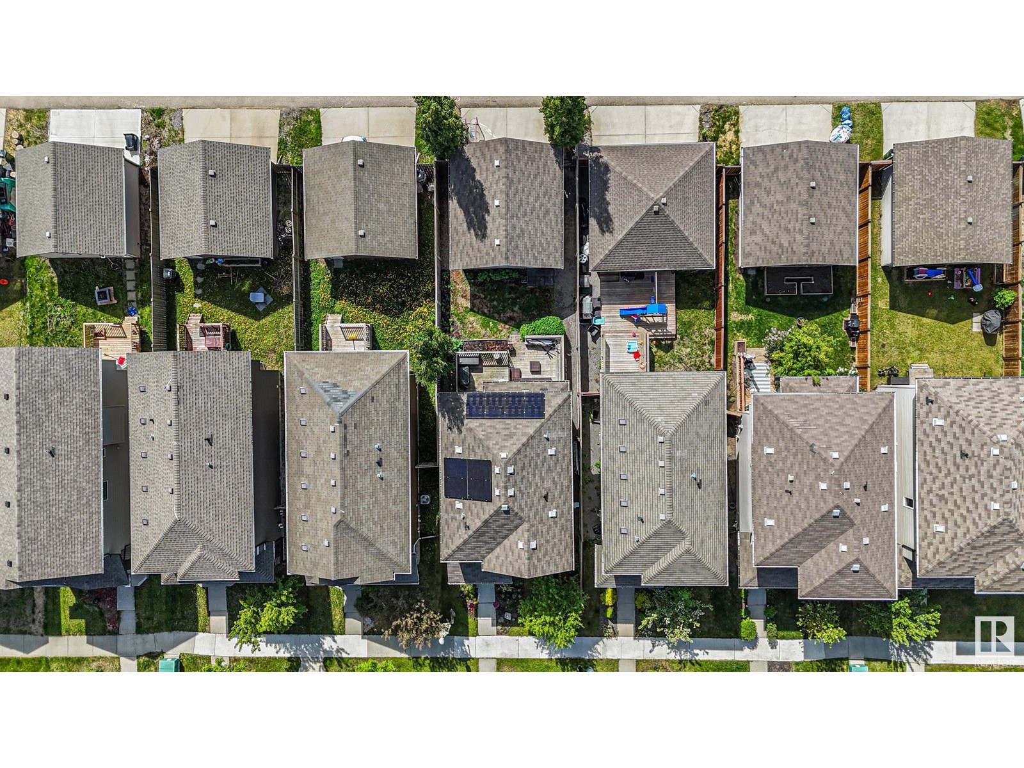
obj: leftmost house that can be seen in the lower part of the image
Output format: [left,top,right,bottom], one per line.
[0,346,146,587]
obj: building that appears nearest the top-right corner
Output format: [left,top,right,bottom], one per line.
[880,135,1013,269]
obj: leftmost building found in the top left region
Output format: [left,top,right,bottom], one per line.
[15,141,140,260]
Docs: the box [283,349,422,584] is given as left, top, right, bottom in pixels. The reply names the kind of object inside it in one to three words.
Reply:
house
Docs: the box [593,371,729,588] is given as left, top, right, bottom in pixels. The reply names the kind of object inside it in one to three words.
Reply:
house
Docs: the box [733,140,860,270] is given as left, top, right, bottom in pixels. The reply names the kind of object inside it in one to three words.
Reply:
building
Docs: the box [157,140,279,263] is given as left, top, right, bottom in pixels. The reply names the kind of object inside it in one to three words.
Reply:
building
